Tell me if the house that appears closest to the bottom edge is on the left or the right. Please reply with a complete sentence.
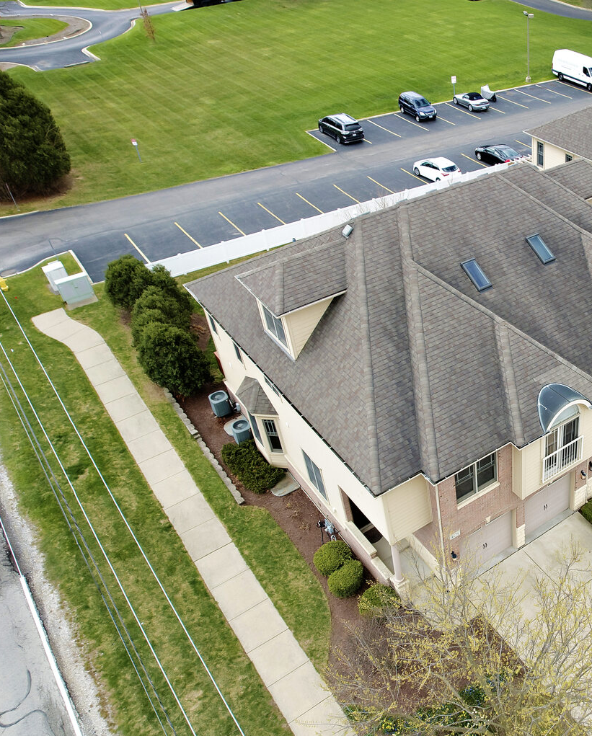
It is on the right.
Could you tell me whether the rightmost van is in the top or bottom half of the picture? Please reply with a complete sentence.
The rightmost van sits in the top half of the picture.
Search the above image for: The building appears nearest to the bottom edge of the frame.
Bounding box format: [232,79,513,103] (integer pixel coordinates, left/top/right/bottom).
[181,155,592,595]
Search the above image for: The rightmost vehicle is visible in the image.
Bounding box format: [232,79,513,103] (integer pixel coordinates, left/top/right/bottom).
[552,49,592,90]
